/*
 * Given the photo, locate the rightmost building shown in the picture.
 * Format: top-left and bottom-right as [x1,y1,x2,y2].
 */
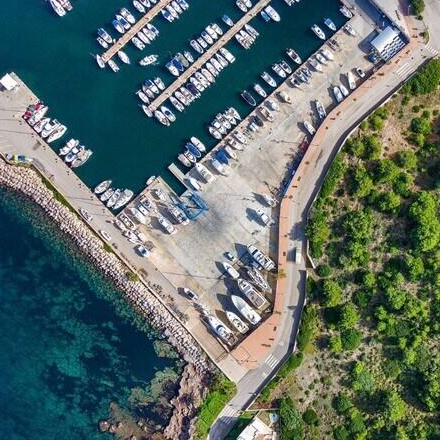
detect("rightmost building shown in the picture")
[370,26,407,64]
